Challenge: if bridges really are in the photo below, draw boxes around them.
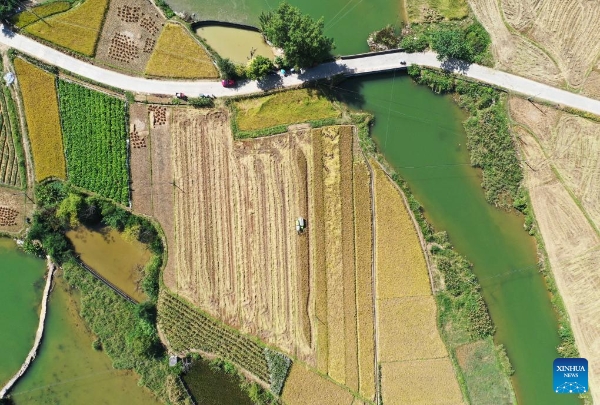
[338,47,408,79]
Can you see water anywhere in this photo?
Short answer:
Yes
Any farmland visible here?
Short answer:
Yes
